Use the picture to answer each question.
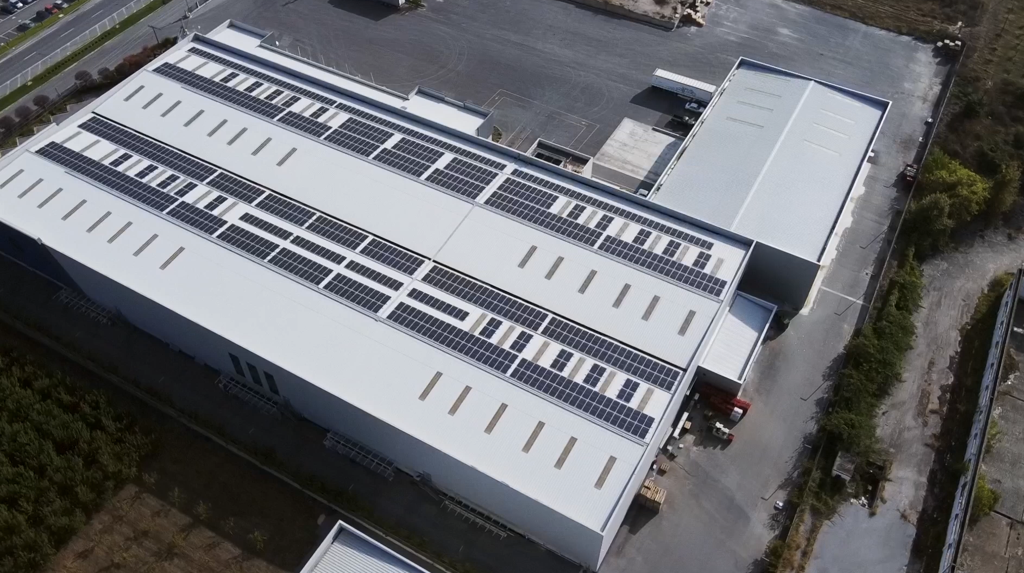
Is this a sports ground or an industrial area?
industrial area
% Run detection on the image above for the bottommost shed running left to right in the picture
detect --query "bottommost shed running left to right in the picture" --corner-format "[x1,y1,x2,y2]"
[300,520,431,573]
